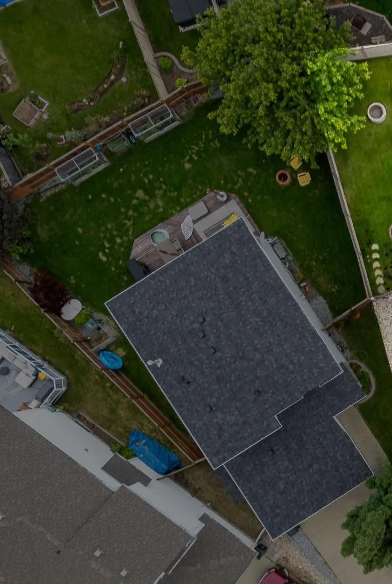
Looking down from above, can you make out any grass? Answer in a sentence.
Yes, there's grass in this view.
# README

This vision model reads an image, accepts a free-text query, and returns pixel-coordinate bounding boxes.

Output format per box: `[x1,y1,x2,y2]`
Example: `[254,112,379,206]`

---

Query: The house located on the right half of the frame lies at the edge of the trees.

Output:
[104,215,374,540]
